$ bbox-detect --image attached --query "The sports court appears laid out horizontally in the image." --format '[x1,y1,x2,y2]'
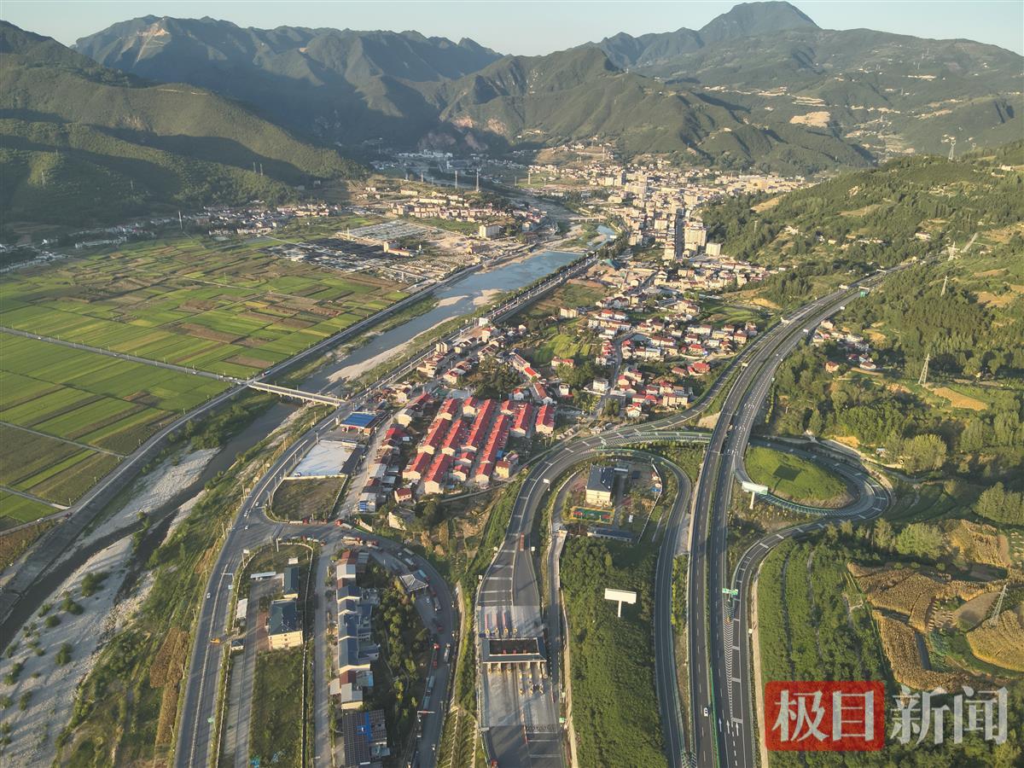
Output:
[570,504,615,523]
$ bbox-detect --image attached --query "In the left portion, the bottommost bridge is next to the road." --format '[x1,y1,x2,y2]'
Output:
[239,381,348,406]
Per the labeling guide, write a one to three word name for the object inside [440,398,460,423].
house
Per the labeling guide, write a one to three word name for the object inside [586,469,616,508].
building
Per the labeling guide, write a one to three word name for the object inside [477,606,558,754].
toll station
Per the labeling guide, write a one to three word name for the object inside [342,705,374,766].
shed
